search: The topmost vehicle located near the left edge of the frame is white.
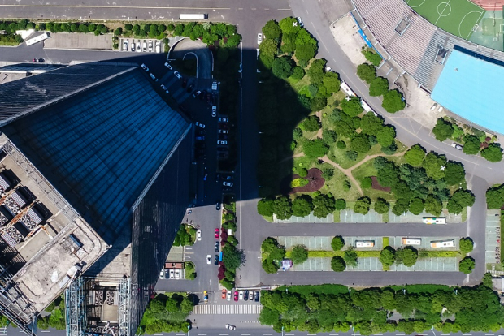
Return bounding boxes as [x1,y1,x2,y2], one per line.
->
[25,31,54,46]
